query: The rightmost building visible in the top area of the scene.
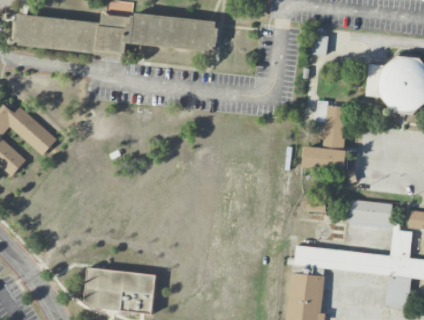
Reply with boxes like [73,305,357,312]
[364,56,424,116]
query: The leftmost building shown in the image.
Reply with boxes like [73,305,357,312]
[0,106,57,177]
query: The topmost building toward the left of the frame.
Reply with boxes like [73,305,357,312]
[2,2,218,58]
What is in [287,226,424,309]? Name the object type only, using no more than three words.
building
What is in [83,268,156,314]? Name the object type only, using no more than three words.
building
